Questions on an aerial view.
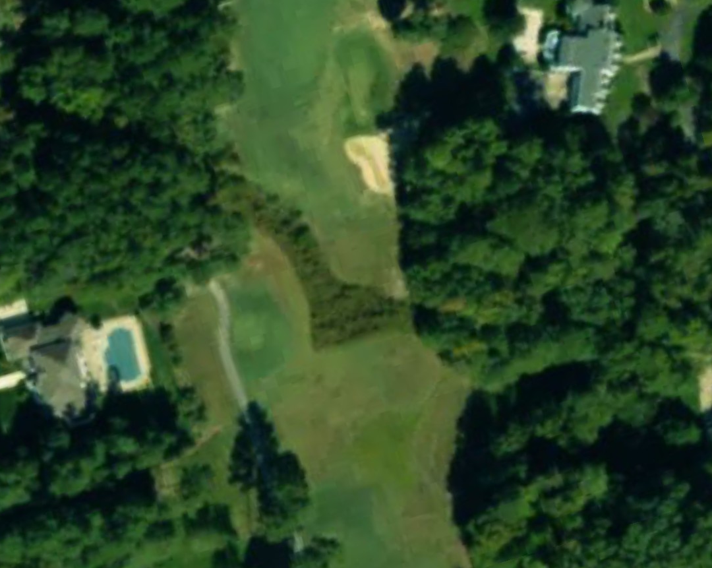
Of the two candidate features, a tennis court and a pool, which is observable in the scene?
pool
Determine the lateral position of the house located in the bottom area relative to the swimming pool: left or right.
to its left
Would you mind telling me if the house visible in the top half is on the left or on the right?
right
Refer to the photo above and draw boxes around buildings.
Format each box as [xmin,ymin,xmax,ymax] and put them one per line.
[0,309,95,419]
[544,0,620,113]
